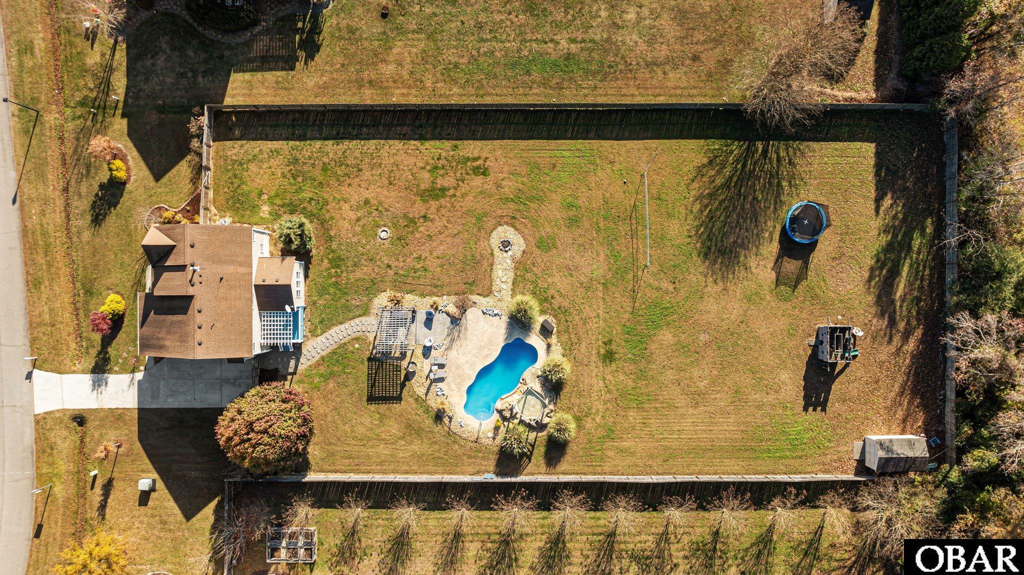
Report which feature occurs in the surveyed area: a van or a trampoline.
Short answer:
trampoline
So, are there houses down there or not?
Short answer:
Yes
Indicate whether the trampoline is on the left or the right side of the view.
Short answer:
right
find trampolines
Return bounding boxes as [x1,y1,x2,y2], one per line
[781,199,833,243]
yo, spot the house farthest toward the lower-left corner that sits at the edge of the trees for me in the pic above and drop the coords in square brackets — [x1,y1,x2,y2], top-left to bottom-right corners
[137,222,305,361]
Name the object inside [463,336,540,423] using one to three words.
swimming pool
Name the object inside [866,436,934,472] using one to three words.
shed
